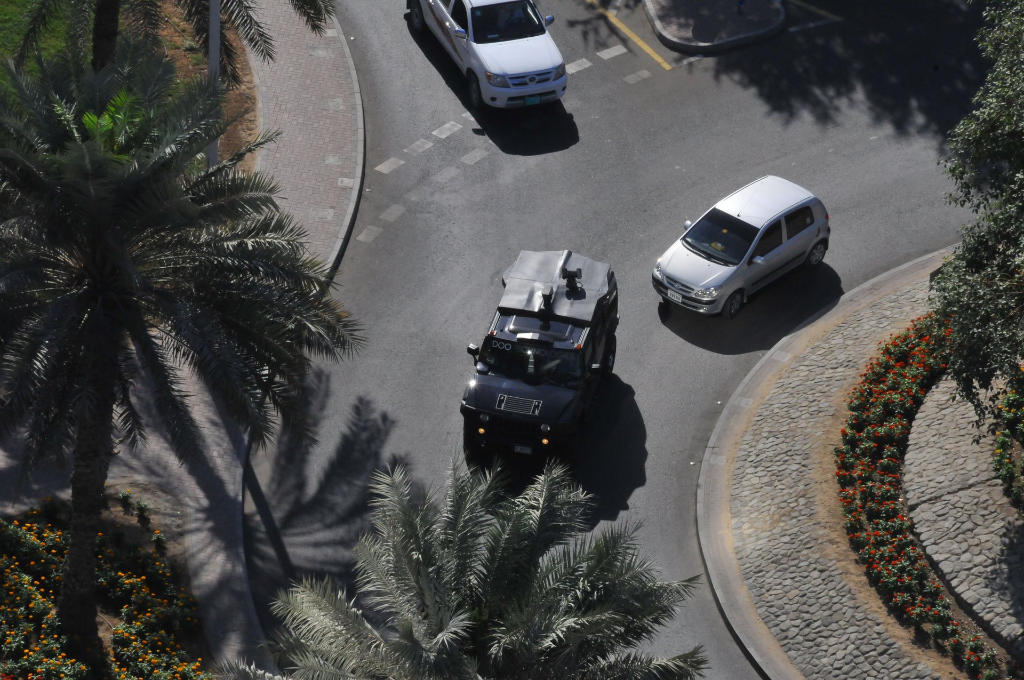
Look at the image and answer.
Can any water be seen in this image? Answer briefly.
No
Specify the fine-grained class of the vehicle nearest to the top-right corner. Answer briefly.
automobile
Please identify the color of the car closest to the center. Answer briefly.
black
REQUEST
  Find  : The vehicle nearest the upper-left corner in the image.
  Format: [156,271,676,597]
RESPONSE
[408,0,571,112]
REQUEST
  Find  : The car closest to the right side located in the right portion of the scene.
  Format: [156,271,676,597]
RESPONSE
[645,175,832,321]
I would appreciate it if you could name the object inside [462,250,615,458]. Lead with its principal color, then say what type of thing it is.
black car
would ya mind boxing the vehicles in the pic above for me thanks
[645,175,832,321]
[408,0,571,112]
[462,250,615,458]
